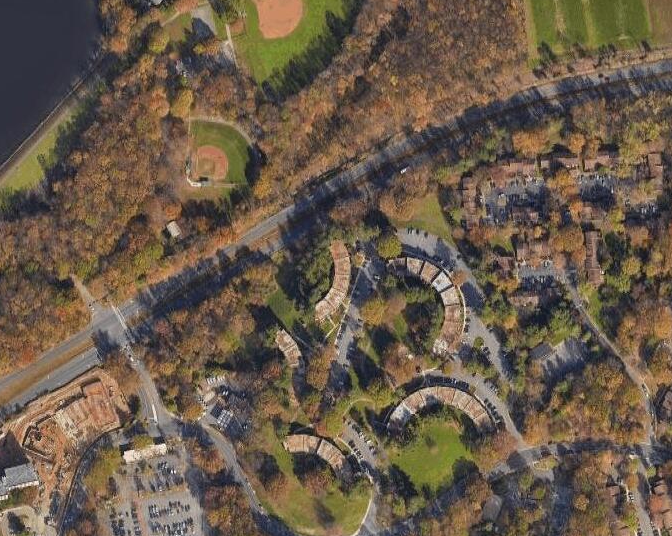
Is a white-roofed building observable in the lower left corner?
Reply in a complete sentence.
Yes, a white-roofed building is visible in the lower left corner.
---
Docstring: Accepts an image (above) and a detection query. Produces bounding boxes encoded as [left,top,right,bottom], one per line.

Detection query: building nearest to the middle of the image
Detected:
[315,238,352,327]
